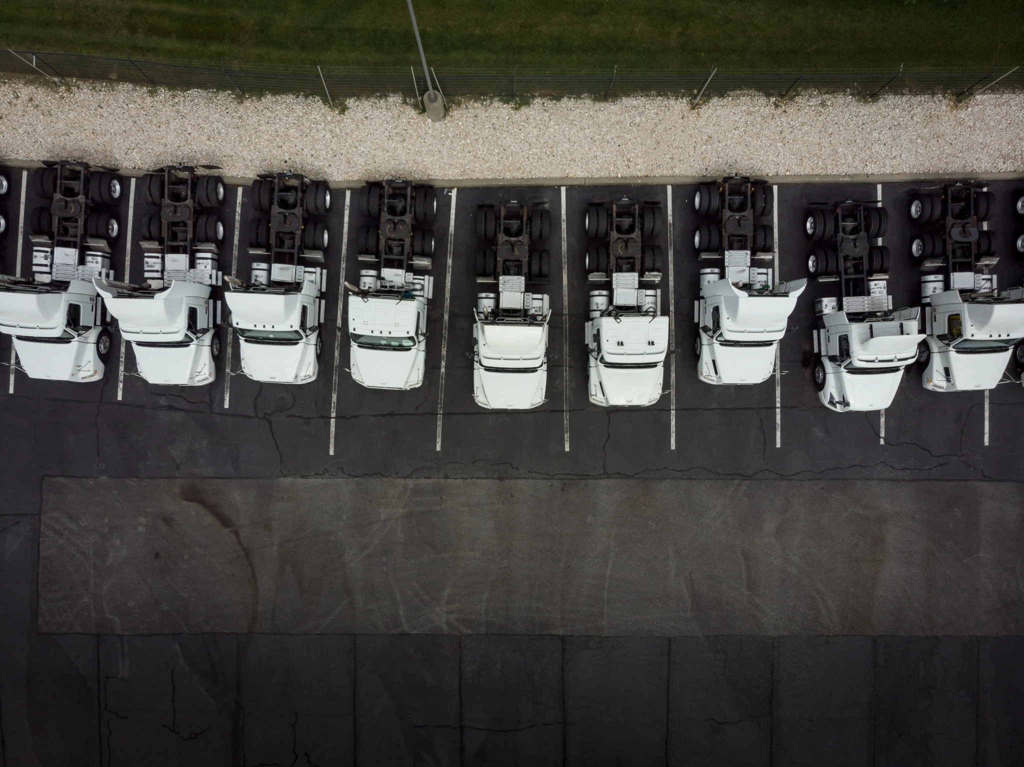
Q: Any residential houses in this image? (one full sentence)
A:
No, the frame has no residential house in it.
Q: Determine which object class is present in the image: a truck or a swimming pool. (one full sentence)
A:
I can see a truck in this picture.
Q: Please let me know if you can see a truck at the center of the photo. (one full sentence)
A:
Yes, a truck shows up at the center of the photo.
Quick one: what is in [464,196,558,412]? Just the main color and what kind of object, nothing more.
white truck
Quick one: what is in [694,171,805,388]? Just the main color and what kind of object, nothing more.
white truck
